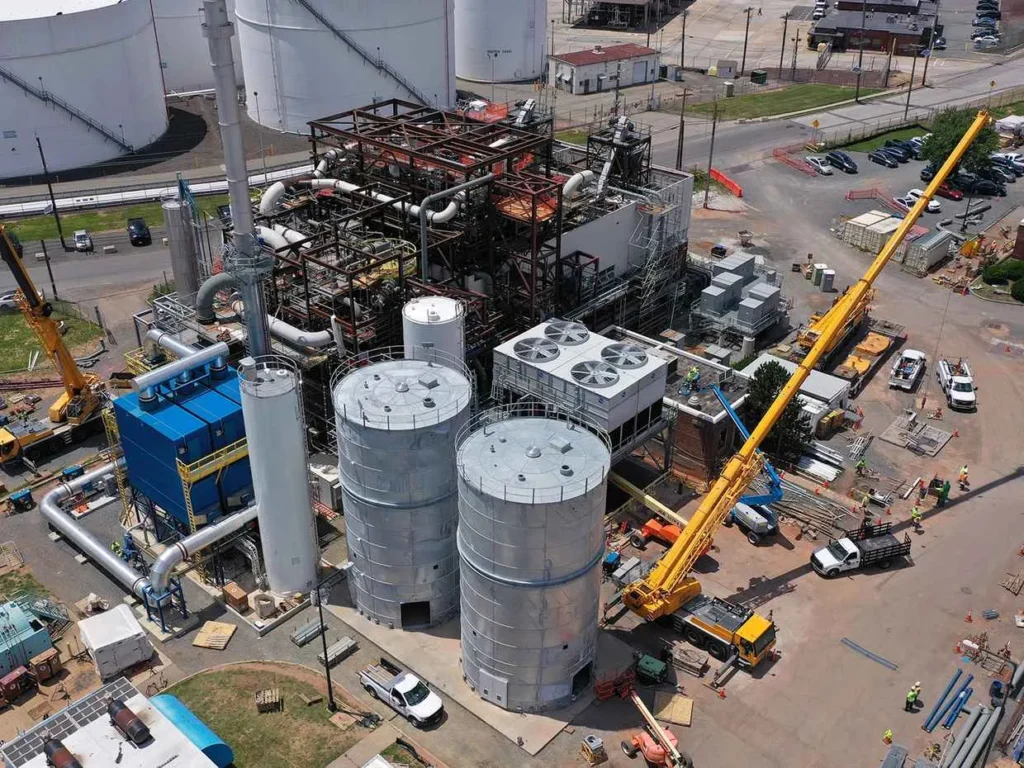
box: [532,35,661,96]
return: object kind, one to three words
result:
building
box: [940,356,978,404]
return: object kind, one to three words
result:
truck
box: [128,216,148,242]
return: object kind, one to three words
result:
car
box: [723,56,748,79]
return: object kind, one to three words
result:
shed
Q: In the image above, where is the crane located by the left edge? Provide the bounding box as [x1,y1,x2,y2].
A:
[0,206,136,477]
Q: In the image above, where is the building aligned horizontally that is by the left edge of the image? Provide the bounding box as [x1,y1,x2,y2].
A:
[0,676,208,768]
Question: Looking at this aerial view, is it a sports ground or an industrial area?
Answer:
industrial area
